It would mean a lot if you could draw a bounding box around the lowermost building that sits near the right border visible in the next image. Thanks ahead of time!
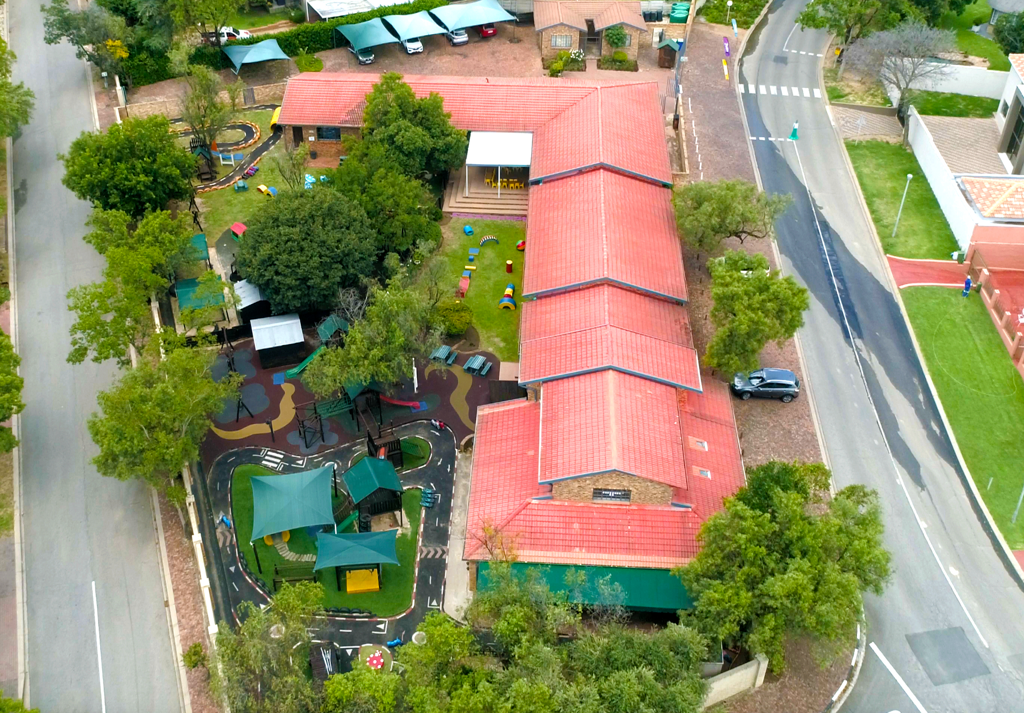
[953,176,1024,259]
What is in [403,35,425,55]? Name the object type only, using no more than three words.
car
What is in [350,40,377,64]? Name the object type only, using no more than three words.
car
